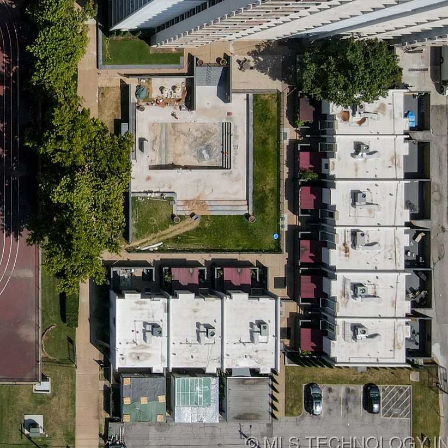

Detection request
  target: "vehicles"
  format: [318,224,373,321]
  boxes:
[109,421,128,448]
[307,384,323,413]
[365,383,380,412]
[439,46,448,94]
